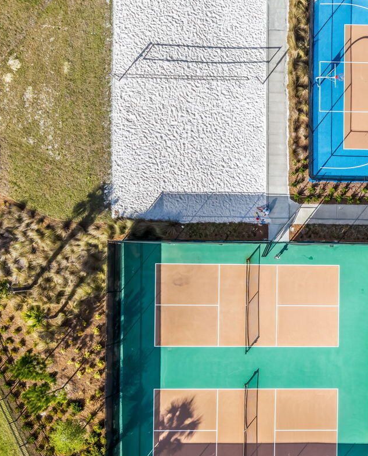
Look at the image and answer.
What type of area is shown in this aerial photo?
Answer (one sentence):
The area seen from above is a sports ground.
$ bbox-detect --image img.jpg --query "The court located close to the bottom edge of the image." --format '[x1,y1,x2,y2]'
[152,389,339,456]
